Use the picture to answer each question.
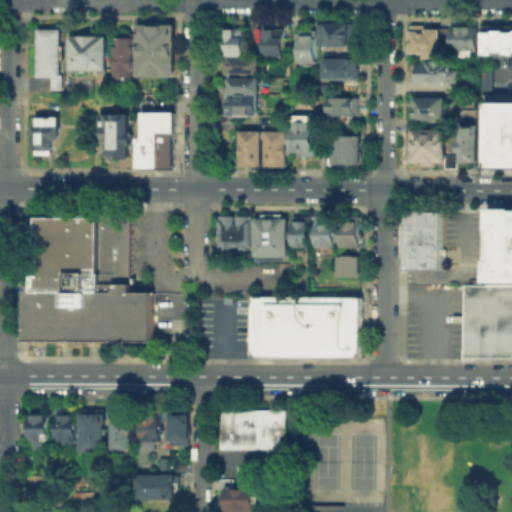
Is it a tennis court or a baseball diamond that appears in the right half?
tennis court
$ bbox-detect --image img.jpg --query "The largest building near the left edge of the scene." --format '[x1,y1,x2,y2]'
[19,218,158,343]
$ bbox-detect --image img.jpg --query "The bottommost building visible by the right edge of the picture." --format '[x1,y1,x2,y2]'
[463,284,512,360]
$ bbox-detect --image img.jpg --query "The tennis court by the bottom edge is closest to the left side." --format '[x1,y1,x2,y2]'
[306,420,346,502]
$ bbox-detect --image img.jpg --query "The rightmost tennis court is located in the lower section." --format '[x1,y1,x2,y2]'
[346,420,386,502]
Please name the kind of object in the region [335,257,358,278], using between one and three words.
building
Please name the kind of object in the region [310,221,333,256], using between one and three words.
house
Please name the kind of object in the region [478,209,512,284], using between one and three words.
building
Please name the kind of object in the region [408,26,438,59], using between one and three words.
house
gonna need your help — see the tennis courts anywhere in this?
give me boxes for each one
[306,420,346,502]
[346,420,386,502]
